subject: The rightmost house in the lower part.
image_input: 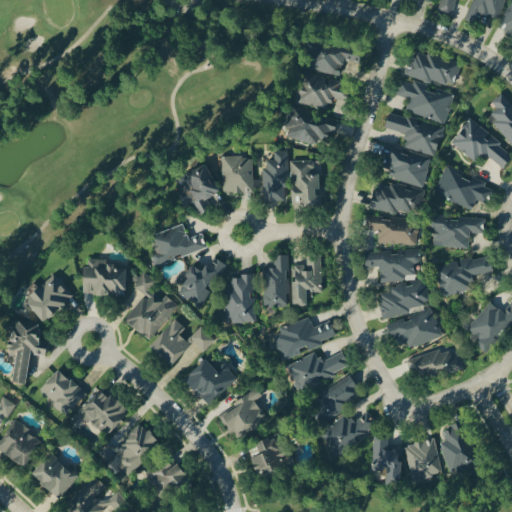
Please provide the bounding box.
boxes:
[469,300,512,352]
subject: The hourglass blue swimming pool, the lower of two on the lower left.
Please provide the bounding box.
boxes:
[58,445,82,466]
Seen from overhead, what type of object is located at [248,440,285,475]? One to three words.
house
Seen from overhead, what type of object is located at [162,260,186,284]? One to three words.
swimming pool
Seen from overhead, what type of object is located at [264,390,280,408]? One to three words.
swimming pool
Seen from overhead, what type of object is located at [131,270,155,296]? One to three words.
building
